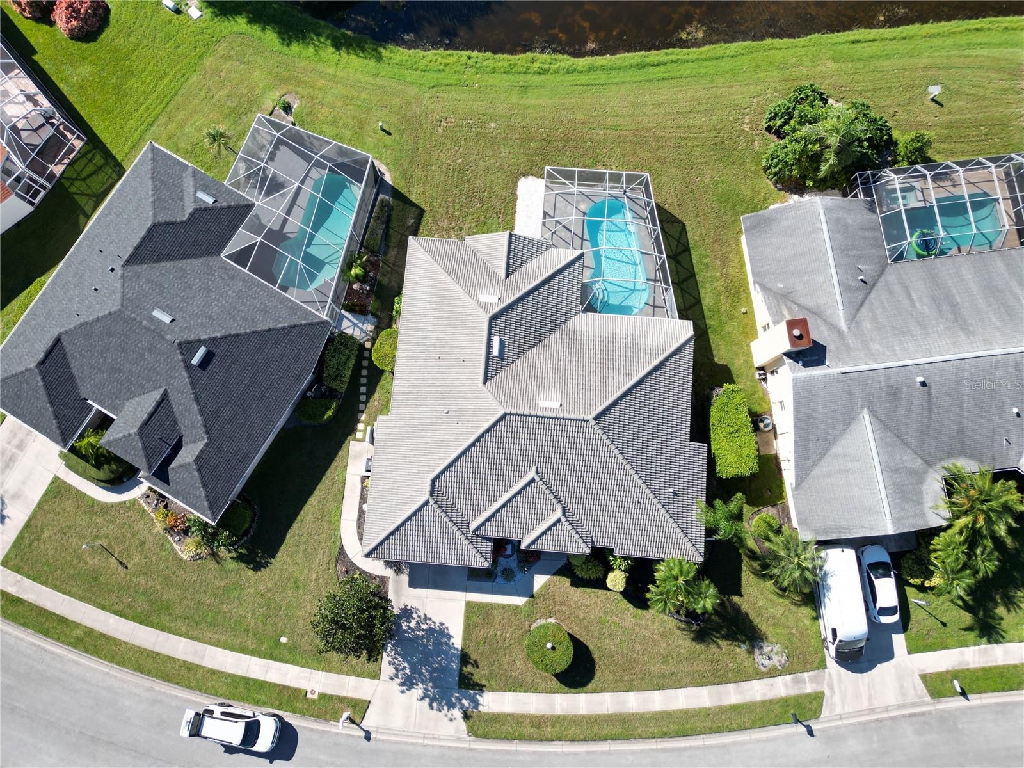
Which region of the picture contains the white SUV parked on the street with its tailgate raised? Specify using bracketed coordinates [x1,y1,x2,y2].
[177,700,283,749]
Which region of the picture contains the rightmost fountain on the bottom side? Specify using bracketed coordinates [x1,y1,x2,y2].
[499,542,520,563]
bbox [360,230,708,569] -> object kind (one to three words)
house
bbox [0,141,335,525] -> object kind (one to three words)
house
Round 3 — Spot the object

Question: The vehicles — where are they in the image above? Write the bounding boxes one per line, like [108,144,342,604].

[177,700,283,749]
[858,544,902,626]
[816,551,870,658]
